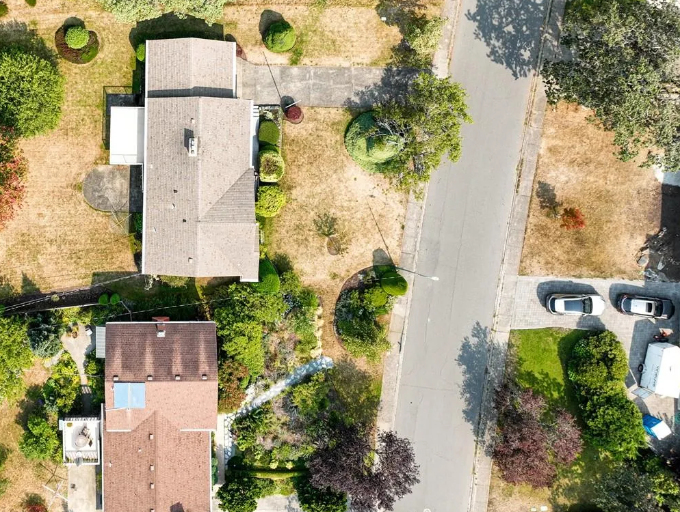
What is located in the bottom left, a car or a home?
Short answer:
home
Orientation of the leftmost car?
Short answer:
from side to side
